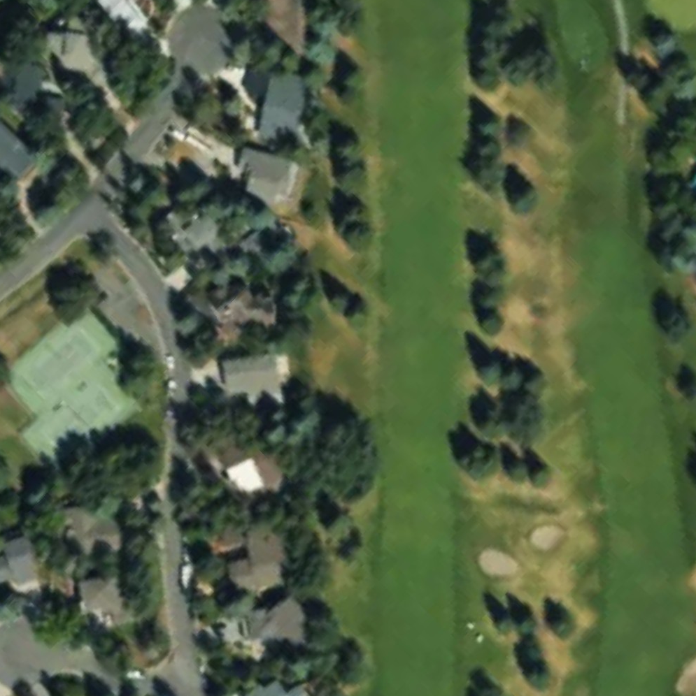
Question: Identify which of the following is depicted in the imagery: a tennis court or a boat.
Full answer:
Of the two, only a tennis court appears.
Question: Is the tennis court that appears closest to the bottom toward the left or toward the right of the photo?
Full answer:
It is on the left.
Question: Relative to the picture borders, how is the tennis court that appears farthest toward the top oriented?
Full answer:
In this picture, the tennis court that appears farthest toward the top lies diagonally.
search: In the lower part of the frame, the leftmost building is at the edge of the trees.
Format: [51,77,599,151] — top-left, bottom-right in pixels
[0,539,39,589]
